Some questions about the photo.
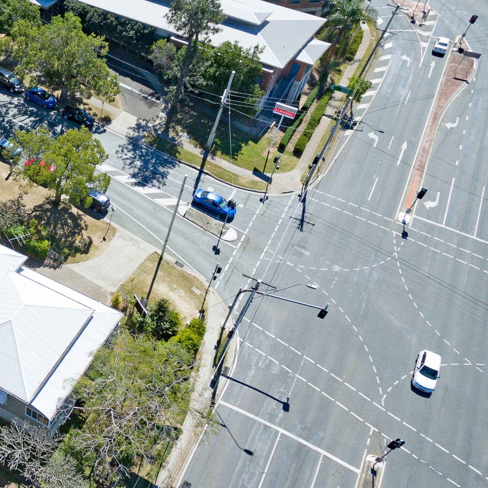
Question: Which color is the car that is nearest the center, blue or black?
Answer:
blue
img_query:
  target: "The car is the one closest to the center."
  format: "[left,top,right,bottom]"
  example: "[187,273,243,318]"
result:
[192,190,236,219]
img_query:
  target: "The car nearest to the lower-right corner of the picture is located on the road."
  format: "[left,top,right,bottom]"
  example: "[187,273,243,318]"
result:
[409,349,445,397]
